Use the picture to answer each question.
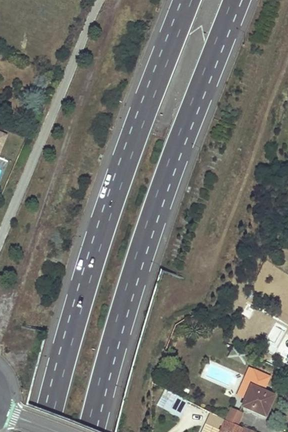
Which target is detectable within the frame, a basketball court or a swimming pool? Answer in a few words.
swimming pool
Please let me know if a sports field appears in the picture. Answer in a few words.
No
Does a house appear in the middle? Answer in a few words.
No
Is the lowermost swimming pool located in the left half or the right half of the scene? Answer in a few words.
right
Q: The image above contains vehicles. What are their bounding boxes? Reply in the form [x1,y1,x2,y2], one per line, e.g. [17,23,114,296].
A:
[77,296,84,307]
[100,187,108,200]
[76,258,84,270]
[104,174,112,186]
[191,414,202,420]
[89,257,96,268]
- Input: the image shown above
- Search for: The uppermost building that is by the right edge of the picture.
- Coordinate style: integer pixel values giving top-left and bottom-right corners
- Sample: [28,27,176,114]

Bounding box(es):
[238,366,278,416]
